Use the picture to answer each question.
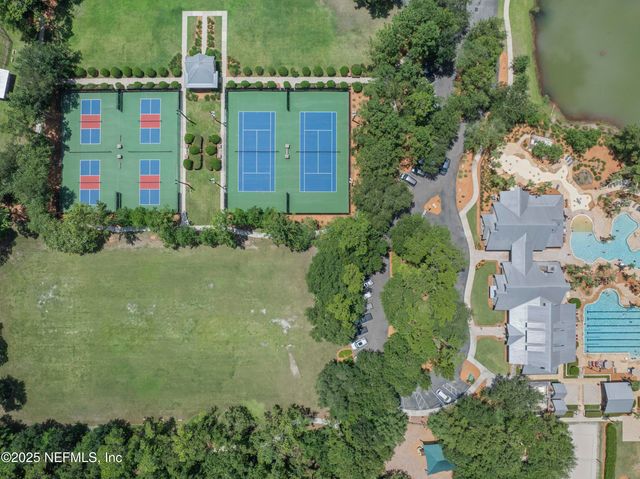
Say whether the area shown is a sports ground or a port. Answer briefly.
sports ground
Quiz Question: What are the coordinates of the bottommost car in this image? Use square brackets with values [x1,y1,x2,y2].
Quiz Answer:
[436,388,451,402]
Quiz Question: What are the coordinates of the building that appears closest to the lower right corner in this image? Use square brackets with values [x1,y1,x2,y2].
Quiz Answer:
[599,381,635,413]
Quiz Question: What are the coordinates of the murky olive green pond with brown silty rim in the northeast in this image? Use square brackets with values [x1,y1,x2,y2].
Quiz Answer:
[536,0,640,128]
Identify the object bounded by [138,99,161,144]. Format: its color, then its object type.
blue sports court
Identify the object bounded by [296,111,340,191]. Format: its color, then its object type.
blue tennis court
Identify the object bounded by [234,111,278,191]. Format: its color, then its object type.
blue tennis court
